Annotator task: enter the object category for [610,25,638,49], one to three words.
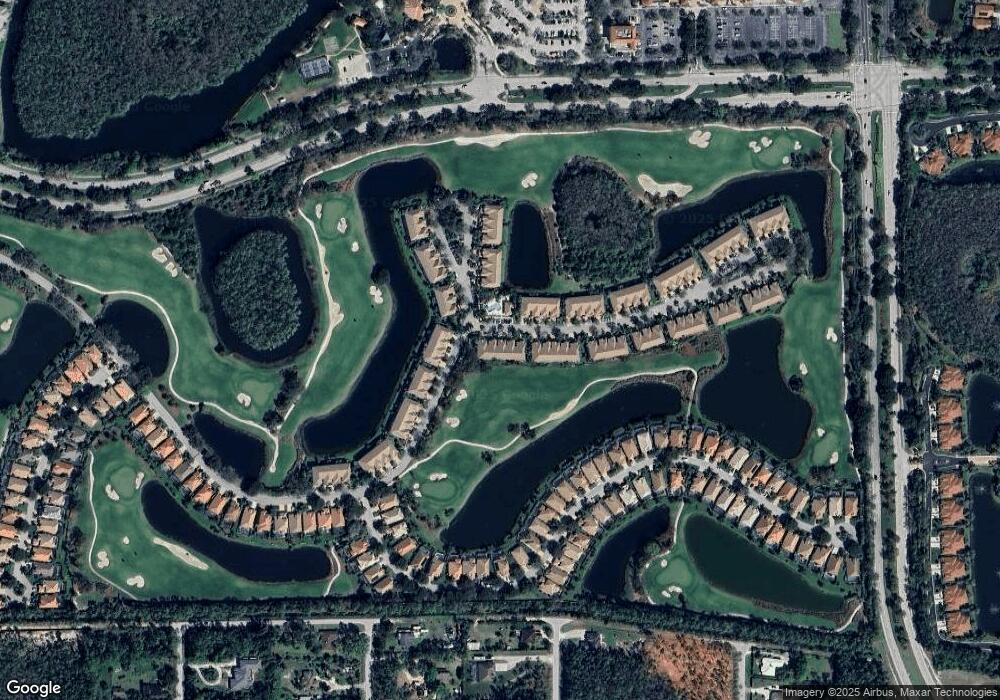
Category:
building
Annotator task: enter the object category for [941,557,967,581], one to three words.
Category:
house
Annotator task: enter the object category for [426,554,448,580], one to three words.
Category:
house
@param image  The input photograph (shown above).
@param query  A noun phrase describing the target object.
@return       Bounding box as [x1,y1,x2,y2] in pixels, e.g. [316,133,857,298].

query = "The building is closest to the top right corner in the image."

[974,1,994,29]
